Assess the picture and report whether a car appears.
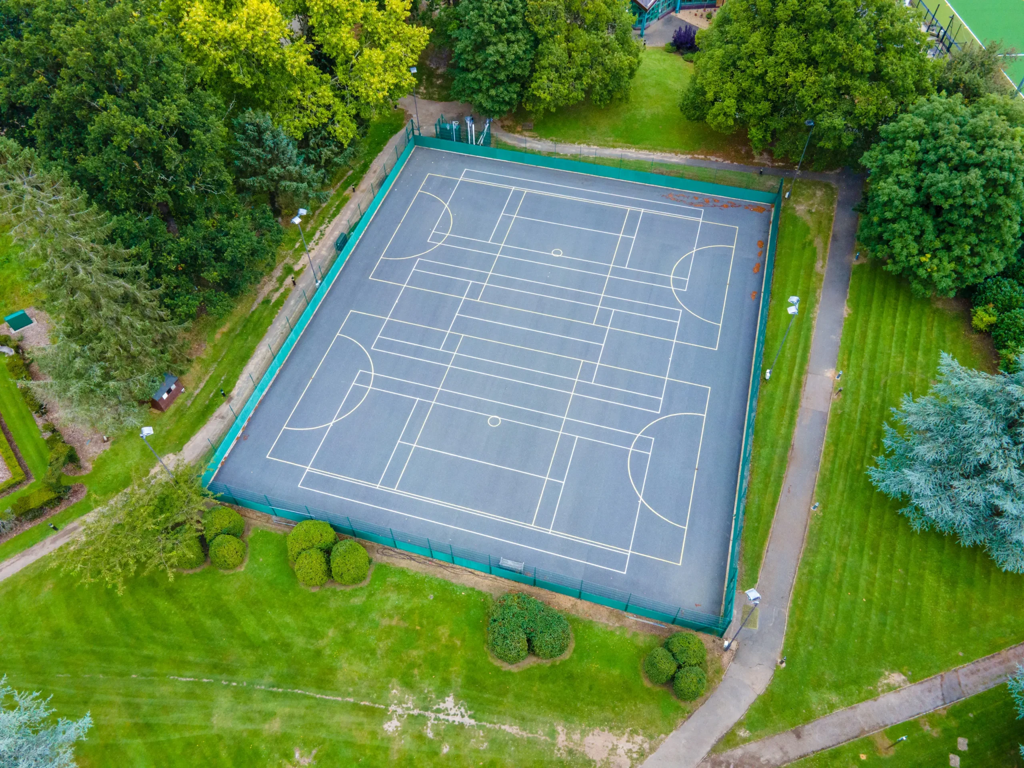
No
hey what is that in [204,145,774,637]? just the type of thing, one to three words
sports court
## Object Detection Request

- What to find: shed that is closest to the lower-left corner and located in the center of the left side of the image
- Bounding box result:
[140,370,187,412]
